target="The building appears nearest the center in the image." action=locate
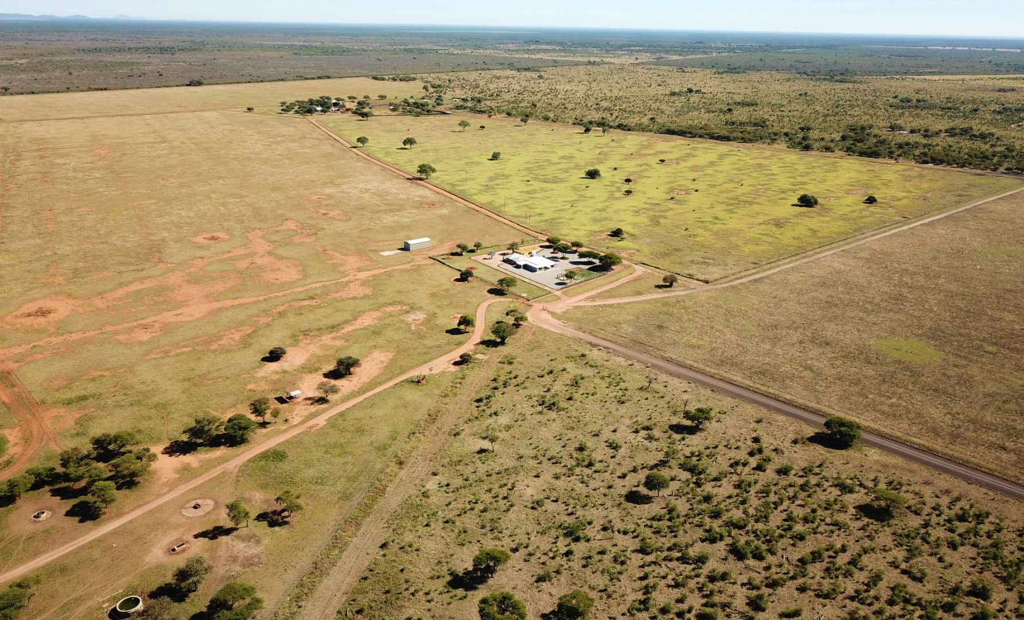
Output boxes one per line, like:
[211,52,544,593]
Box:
[506,253,555,272]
